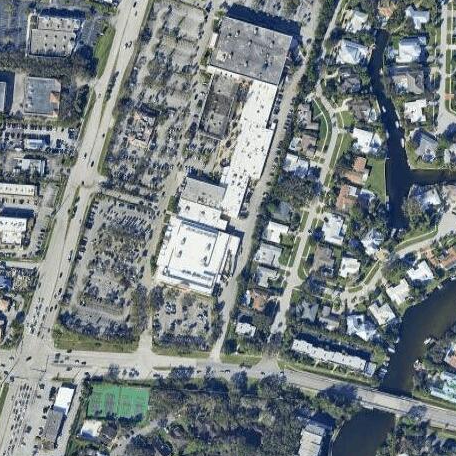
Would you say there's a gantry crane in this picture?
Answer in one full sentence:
No, I can see no gantry crane in this picture.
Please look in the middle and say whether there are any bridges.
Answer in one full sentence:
No, no bridge is visible in the middle.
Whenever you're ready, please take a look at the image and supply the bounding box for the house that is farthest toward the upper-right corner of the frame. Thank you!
[401,4,429,28]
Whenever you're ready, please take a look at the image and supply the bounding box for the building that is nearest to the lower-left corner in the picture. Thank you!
[43,408,64,449]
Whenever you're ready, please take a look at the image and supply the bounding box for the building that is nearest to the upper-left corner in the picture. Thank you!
[31,12,81,55]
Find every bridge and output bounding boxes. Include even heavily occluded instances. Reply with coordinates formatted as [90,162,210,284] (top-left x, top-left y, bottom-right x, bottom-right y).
[370,389,421,419]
